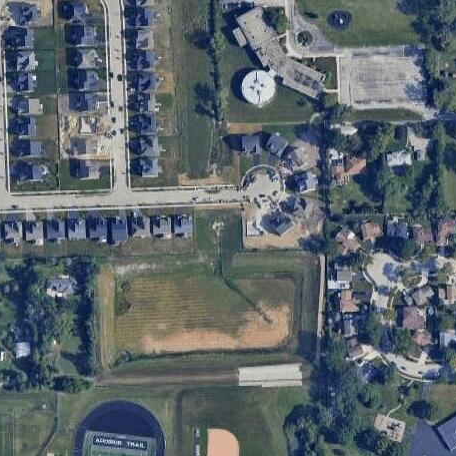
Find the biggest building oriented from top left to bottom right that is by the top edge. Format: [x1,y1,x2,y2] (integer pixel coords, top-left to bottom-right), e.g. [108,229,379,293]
[233,7,325,98]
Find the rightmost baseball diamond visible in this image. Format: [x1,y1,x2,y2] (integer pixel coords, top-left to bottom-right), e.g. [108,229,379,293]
[198,417,257,456]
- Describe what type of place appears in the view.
residential area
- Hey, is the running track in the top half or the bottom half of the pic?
bottom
